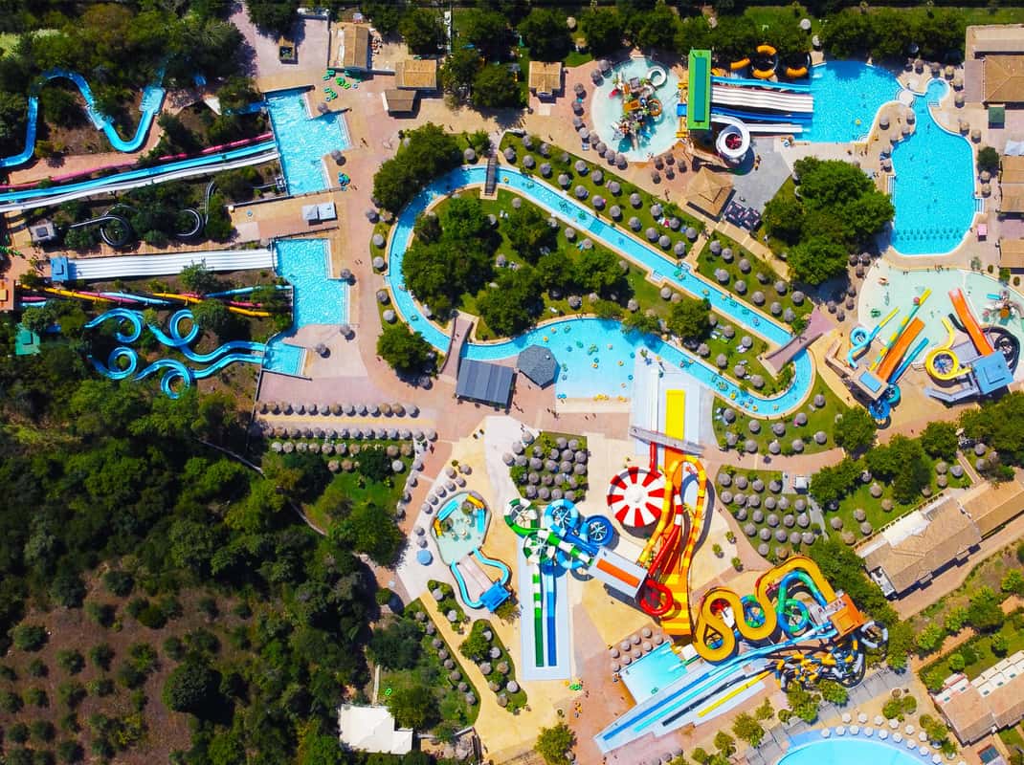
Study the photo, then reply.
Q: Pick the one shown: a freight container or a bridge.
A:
bridge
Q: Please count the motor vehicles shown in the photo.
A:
0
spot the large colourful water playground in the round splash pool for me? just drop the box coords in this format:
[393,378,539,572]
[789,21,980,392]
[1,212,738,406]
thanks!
[603,70,665,147]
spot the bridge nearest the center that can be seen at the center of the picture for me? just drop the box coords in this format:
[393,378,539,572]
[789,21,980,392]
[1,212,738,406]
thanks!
[439,317,473,378]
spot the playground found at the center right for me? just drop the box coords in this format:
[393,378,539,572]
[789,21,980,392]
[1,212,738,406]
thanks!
[988,292,1024,325]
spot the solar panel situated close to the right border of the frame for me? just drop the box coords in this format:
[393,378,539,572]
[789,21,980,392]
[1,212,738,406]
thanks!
[977,744,1001,765]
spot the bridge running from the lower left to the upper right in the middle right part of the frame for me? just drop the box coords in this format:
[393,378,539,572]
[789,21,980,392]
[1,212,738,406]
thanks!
[766,307,828,374]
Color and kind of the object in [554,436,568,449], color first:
gray umbrella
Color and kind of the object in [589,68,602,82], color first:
gray umbrella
